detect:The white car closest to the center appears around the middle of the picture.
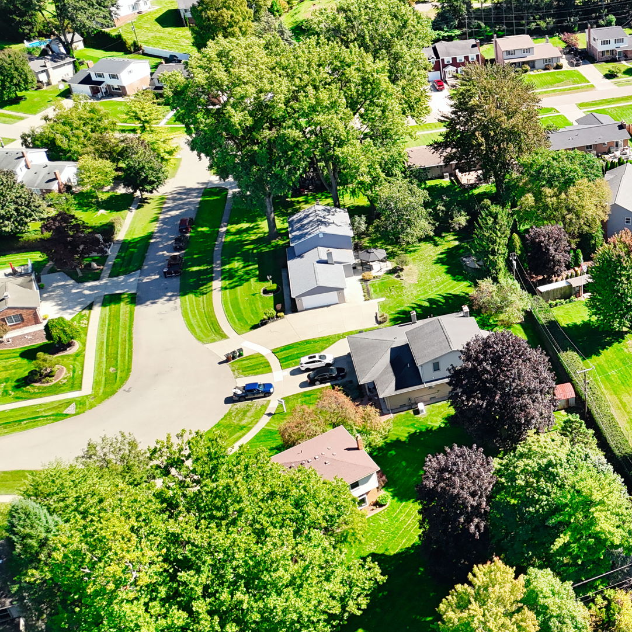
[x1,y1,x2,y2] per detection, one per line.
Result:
[299,352,335,371]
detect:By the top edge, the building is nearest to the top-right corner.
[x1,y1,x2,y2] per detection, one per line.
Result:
[577,23,632,64]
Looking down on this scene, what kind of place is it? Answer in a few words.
residential area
